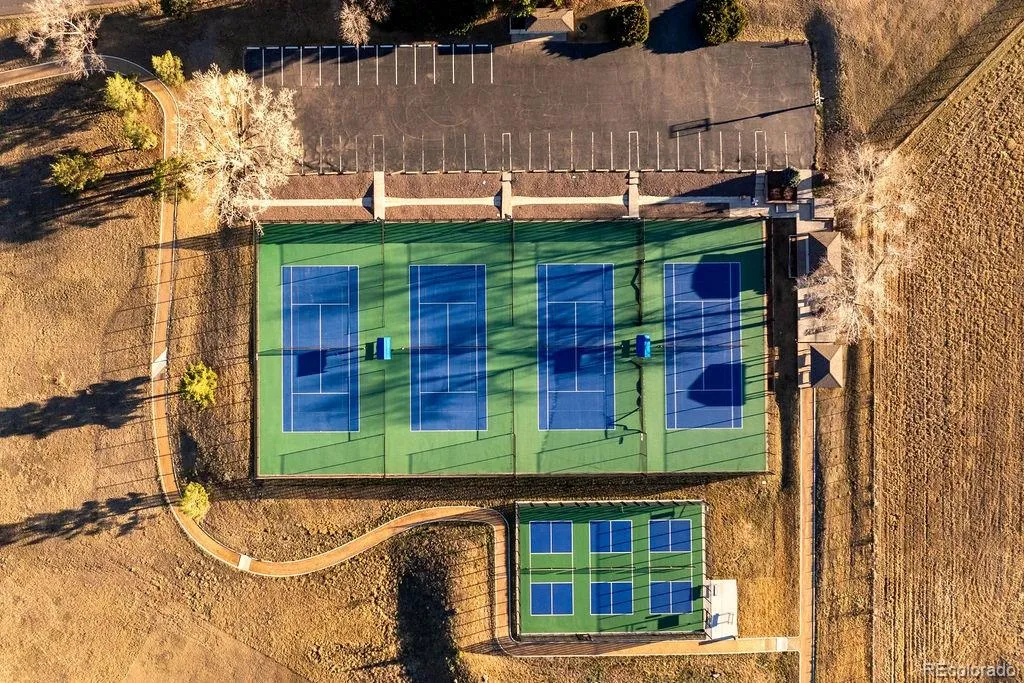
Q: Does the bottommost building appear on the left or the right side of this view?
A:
right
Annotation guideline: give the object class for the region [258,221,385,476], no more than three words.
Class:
tennis court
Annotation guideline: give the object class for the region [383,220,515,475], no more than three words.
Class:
tennis court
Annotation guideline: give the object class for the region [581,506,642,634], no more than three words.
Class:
sports court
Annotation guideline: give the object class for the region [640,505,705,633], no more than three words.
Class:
sports court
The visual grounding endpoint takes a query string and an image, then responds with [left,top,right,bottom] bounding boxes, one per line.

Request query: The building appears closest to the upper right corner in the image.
[781,231,841,278]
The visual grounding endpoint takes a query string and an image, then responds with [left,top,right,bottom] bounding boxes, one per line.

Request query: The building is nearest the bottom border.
[806,344,843,388]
